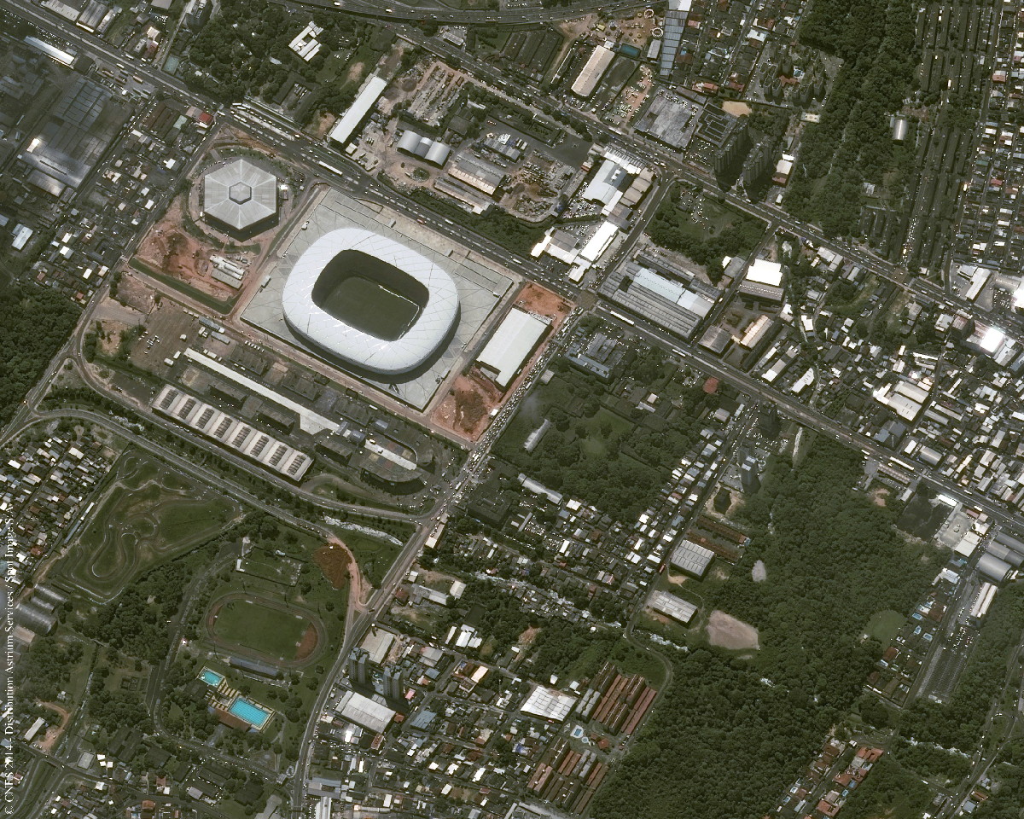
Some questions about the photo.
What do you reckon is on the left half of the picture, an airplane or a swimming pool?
swimming pool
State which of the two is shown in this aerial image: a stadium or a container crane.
stadium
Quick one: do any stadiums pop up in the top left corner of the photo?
Yes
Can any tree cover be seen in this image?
Yes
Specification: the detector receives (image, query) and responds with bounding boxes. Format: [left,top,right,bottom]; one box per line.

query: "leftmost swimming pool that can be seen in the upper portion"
[620,44,641,58]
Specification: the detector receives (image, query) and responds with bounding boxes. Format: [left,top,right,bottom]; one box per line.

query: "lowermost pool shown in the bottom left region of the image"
[226,695,276,731]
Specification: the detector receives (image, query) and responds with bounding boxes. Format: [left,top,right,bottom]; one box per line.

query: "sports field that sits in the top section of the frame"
[326,275,419,340]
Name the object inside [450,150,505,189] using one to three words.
building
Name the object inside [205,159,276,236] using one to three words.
stadium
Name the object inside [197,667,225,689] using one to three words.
swimming pool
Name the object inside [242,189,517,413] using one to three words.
stadium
